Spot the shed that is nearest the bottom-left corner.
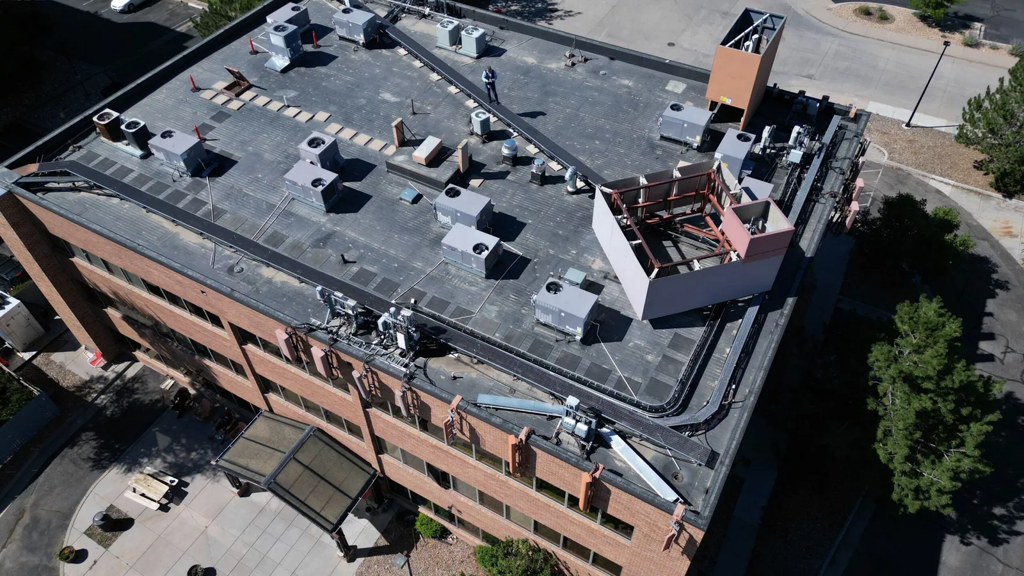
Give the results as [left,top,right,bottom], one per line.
[0,291,45,351]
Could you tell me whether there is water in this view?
No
